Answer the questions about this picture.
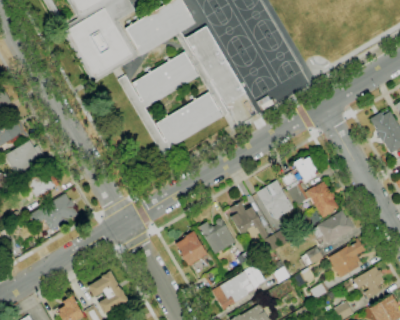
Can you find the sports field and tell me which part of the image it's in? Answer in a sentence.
The sports field is in the top right part of the image.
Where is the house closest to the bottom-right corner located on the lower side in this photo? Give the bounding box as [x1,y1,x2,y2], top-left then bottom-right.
[370,296,400,320]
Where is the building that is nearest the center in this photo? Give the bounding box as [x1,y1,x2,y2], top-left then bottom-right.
[156,92,222,146]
